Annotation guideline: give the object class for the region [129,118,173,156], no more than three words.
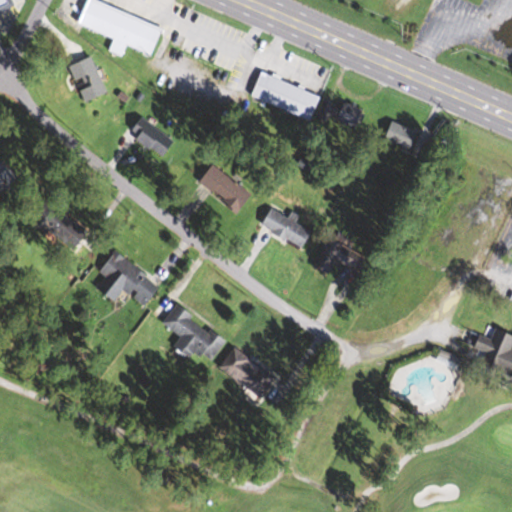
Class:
house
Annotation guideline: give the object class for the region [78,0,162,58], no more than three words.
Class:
building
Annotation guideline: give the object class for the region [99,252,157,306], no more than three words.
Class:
house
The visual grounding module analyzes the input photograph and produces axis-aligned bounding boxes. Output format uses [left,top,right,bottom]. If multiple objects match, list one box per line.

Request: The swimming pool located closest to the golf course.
[390,356,456,414]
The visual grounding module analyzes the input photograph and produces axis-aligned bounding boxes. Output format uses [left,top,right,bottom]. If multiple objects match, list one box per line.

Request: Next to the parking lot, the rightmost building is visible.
[252,70,317,120]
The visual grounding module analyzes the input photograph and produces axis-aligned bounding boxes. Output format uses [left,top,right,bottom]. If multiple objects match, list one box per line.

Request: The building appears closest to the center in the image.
[262,208,310,248]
